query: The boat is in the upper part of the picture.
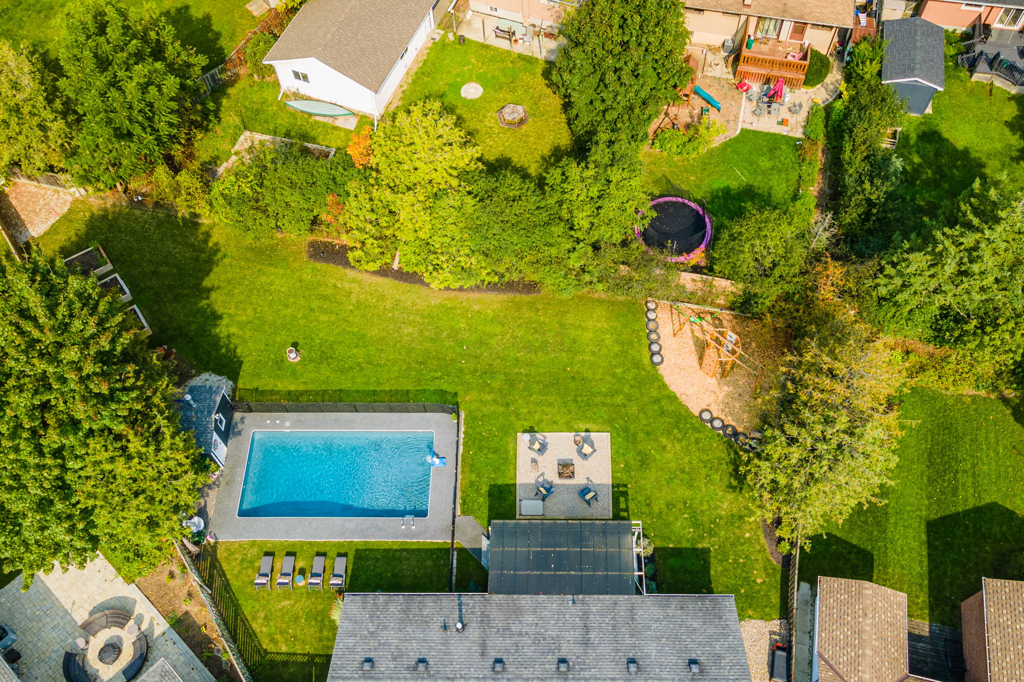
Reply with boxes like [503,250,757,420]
[283,99,354,114]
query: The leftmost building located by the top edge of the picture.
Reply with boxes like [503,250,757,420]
[267,0,445,125]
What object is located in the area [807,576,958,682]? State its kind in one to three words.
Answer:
house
